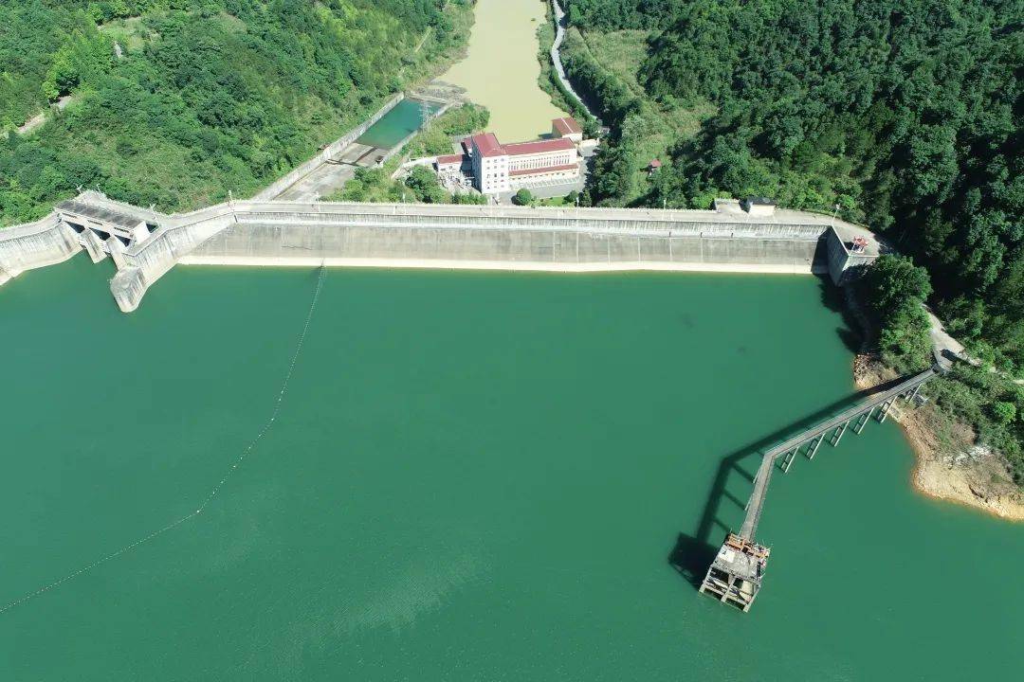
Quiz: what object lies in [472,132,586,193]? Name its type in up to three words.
building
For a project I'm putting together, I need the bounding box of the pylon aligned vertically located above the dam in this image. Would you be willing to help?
[414,94,429,133]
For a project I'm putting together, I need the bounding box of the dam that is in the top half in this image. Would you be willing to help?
[0,187,882,311]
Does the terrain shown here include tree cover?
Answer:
Yes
